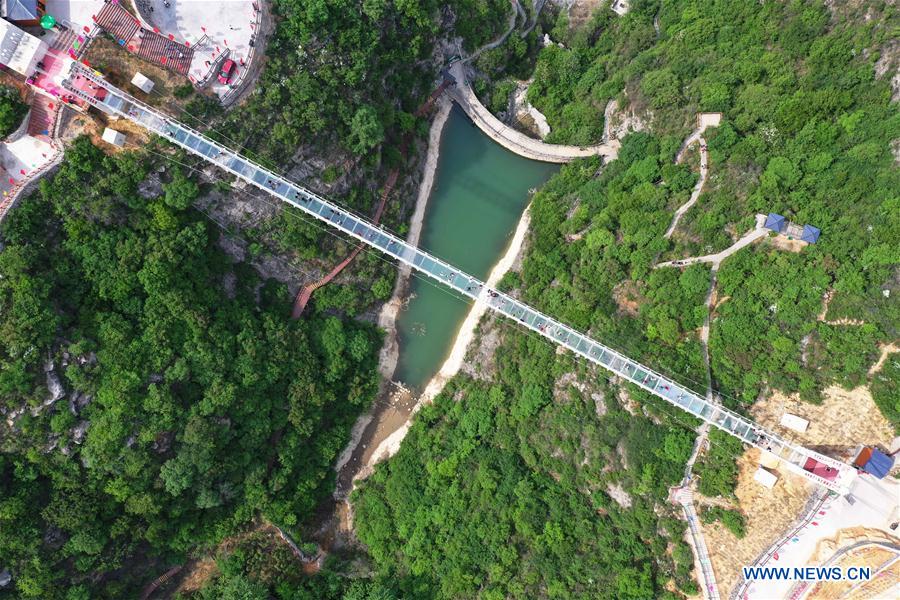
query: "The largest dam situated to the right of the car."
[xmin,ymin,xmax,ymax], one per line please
[445,62,610,167]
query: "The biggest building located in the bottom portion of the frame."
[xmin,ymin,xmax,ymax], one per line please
[856,446,895,481]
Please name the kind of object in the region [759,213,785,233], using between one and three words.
building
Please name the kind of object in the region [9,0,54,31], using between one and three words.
building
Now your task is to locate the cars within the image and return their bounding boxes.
[218,59,236,86]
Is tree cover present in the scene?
Yes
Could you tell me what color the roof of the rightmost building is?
blue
